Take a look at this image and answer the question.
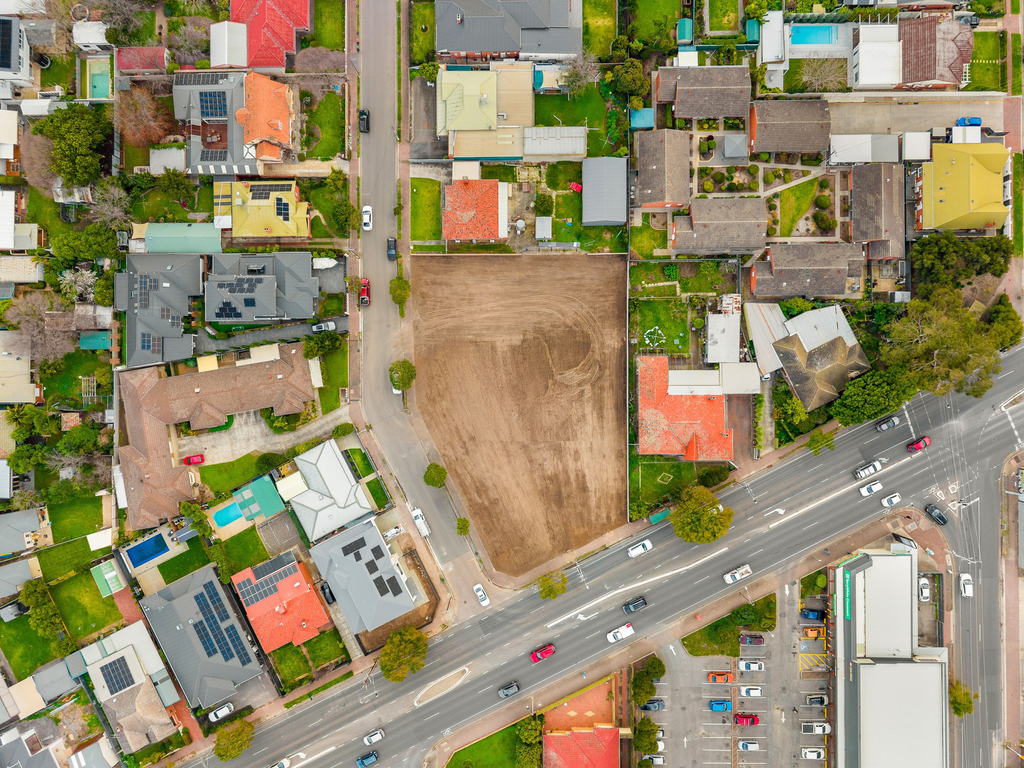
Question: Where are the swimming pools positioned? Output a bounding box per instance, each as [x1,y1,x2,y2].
[791,24,839,45]
[210,502,242,530]
[125,532,170,570]
[86,59,109,99]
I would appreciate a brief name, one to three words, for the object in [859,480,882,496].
car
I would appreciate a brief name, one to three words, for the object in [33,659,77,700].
shed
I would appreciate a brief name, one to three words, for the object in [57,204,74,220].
trampoline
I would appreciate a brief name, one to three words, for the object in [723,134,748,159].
gazebo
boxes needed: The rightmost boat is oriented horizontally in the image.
[313,257,338,269]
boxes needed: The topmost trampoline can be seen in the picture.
[68,2,90,21]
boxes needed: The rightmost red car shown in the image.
[906,436,931,453]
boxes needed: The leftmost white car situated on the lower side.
[209,703,234,721]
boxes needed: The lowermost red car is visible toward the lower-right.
[734,713,759,726]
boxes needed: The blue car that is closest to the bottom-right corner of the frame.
[801,608,826,621]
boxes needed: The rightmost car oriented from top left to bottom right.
[925,503,948,527]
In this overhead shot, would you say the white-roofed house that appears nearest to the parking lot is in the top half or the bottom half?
bottom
